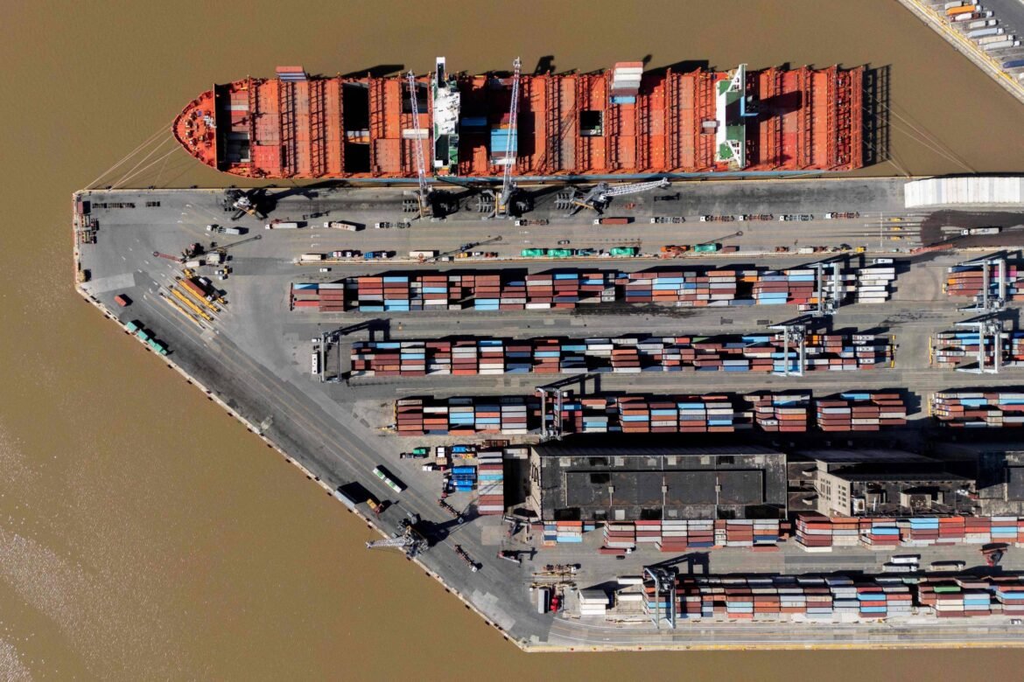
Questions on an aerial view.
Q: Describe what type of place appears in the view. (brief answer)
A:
port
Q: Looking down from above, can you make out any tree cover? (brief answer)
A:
No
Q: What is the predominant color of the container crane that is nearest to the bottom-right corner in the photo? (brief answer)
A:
white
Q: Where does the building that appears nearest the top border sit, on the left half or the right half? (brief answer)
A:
right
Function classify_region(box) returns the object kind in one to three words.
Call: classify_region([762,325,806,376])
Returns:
container crane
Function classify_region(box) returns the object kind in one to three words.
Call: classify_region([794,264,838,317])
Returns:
container crane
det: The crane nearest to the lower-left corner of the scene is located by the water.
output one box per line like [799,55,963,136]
[363,514,432,557]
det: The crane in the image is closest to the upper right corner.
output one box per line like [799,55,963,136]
[952,260,1004,314]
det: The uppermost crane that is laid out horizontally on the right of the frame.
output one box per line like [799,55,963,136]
[565,181,670,215]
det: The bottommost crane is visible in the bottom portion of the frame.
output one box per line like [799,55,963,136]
[639,567,677,630]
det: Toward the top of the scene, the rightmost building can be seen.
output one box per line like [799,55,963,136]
[907,177,1024,209]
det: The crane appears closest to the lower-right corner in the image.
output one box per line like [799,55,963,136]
[947,323,1001,374]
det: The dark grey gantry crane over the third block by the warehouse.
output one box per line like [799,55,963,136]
[531,385,563,439]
